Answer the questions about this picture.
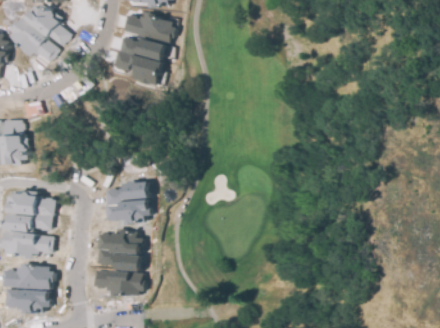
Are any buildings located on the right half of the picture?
No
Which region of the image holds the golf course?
center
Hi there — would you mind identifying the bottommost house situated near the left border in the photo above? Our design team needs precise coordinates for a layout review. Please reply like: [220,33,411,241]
[4,265,53,315]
